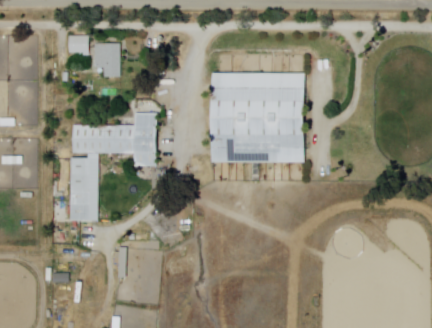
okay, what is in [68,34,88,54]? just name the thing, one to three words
barn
